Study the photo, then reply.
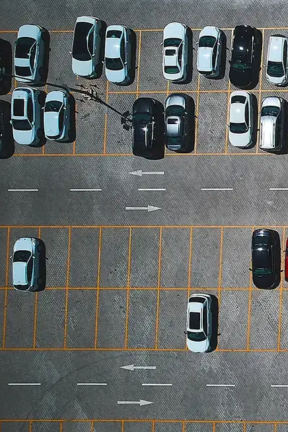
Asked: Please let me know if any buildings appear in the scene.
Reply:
No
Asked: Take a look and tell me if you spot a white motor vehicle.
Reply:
Yes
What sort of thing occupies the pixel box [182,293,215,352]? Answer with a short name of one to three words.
car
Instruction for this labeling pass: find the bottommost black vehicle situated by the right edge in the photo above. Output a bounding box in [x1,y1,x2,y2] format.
[247,228,279,289]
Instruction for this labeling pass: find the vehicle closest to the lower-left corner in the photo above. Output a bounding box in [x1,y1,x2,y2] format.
[6,236,41,290]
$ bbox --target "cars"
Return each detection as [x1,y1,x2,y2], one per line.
[193,27,224,75]
[38,92,72,140]
[6,236,41,290]
[159,24,191,81]
[261,34,288,86]
[225,91,255,148]
[182,293,215,352]
[281,236,288,283]
[127,97,161,156]
[69,16,104,78]
[256,97,287,151]
[4,88,41,144]
[160,93,192,151]
[247,228,279,289]
[100,25,134,82]
[11,26,47,84]
[226,25,260,88]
